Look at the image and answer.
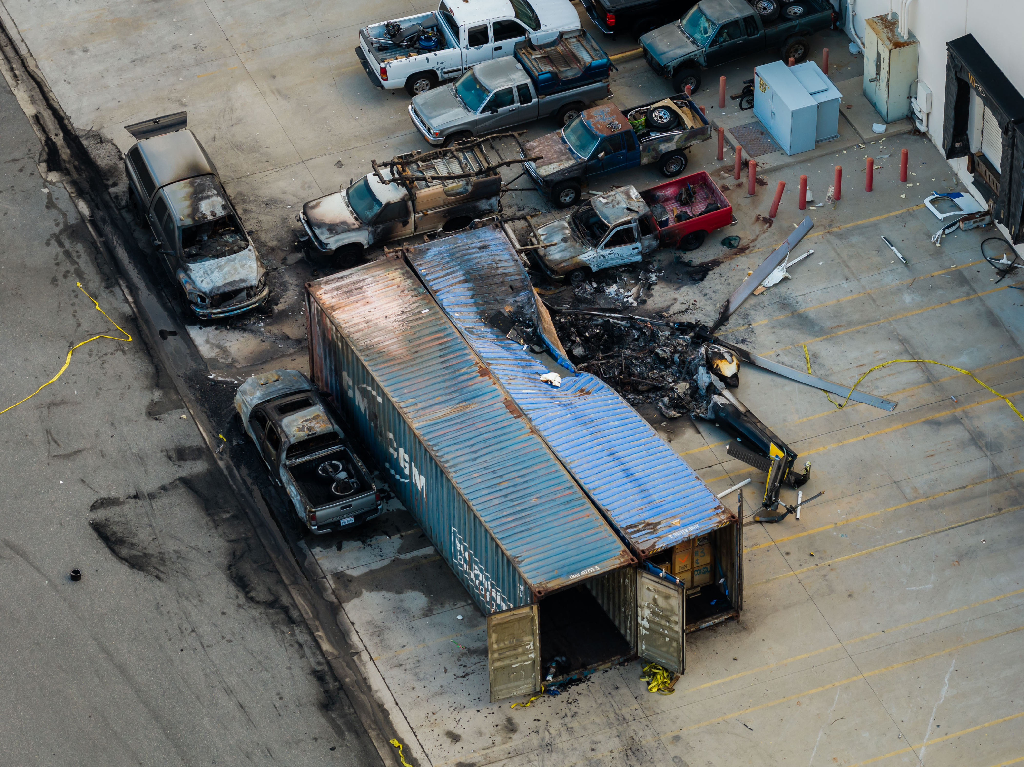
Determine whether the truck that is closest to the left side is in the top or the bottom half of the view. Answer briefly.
top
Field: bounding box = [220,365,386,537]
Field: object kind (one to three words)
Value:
truck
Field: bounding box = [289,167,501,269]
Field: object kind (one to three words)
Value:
truck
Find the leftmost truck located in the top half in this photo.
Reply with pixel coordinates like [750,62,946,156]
[128,98,271,313]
